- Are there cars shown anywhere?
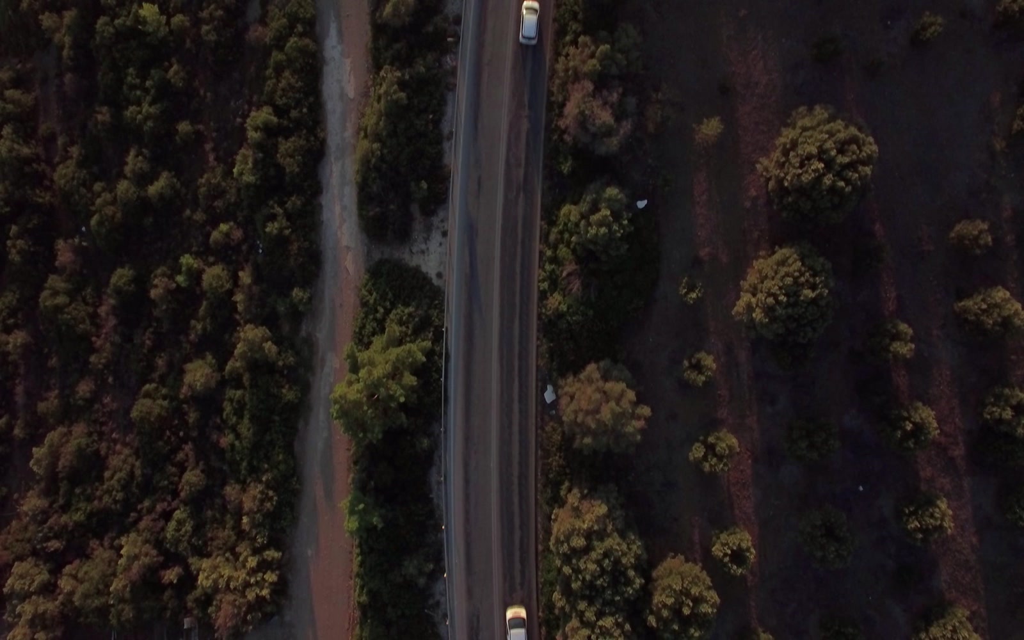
Yes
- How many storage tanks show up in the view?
0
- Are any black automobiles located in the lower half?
No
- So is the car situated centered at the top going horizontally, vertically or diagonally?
vertically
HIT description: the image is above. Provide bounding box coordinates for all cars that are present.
[518,2,540,48]
[505,603,526,640]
